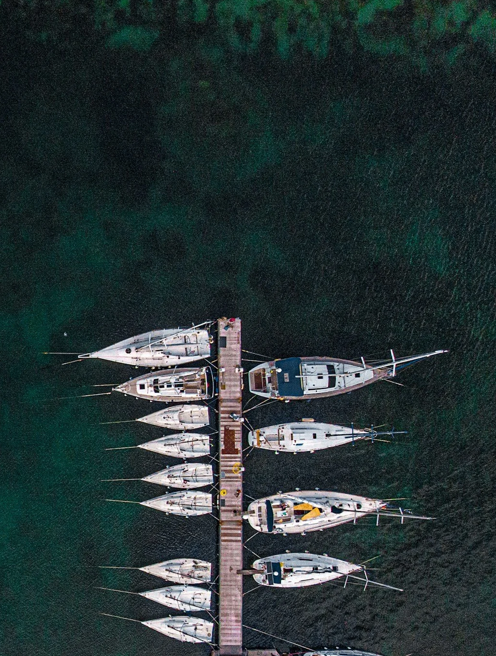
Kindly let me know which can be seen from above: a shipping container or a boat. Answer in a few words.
boat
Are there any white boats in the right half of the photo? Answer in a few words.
Yes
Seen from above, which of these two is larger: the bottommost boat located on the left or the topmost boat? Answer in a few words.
the topmost boat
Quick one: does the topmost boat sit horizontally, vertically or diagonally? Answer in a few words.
horizontally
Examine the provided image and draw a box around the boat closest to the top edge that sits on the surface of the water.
[79,320,216,367]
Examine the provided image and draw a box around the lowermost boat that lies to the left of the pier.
[142,616,214,644]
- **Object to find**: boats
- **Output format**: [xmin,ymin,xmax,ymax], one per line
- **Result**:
[142,616,214,644]
[139,491,211,516]
[139,558,211,584]
[142,464,214,488]
[249,551,407,591]
[244,488,437,532]
[137,405,209,429]
[138,585,211,612]
[79,320,216,367]
[243,349,449,400]
[115,366,214,401]
[248,421,413,451]
[137,433,210,458]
